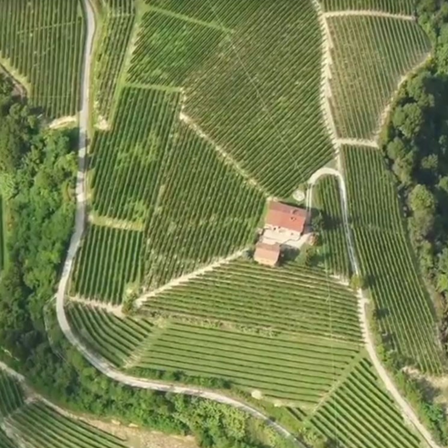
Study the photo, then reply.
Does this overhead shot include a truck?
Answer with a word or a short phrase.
No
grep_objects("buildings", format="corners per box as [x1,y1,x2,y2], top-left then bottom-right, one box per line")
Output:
[262,203,307,239]
[255,242,281,267]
